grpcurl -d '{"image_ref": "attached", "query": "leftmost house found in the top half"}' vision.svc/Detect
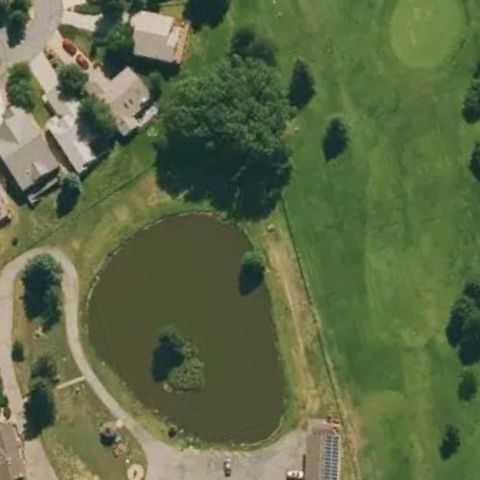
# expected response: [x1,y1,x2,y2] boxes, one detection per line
[0,110,58,190]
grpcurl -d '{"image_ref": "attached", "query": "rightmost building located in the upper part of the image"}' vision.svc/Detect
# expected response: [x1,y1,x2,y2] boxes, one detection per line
[130,13,176,62]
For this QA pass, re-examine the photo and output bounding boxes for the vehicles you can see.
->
[286,471,304,479]
[63,38,77,54]
[75,54,89,70]
[224,456,232,474]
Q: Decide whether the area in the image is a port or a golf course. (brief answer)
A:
golf course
